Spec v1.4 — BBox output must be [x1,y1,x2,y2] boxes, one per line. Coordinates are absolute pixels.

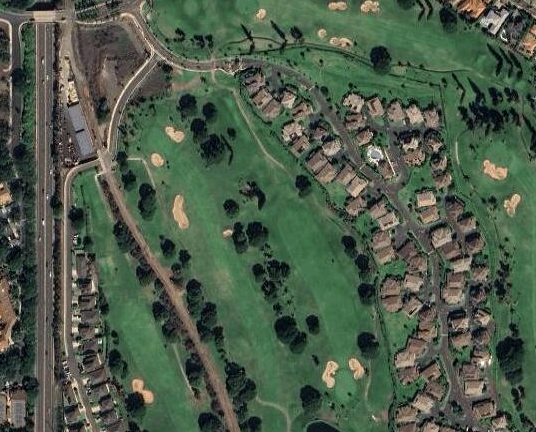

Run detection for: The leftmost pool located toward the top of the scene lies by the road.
[367,146,383,161]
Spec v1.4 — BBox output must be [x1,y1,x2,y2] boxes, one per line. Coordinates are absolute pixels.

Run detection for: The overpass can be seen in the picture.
[4,6,88,20]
